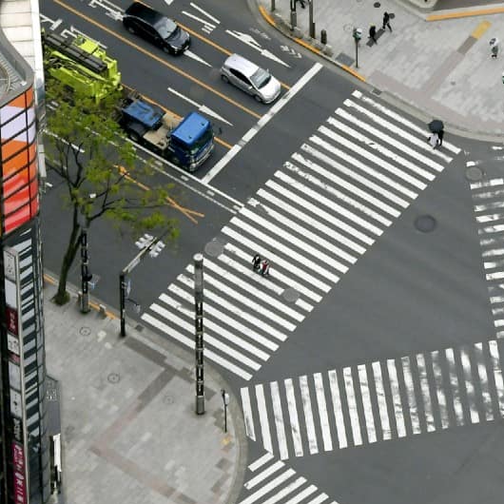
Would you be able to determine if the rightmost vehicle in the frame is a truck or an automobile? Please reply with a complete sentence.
In the photo, the rightmost vehicle shows up as an automobile.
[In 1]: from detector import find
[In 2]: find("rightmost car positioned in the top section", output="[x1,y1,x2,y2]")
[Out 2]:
[219,55,283,105]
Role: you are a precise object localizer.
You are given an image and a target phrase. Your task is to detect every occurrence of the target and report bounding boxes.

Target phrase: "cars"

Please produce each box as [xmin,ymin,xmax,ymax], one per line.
[219,55,283,105]
[118,0,195,56]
